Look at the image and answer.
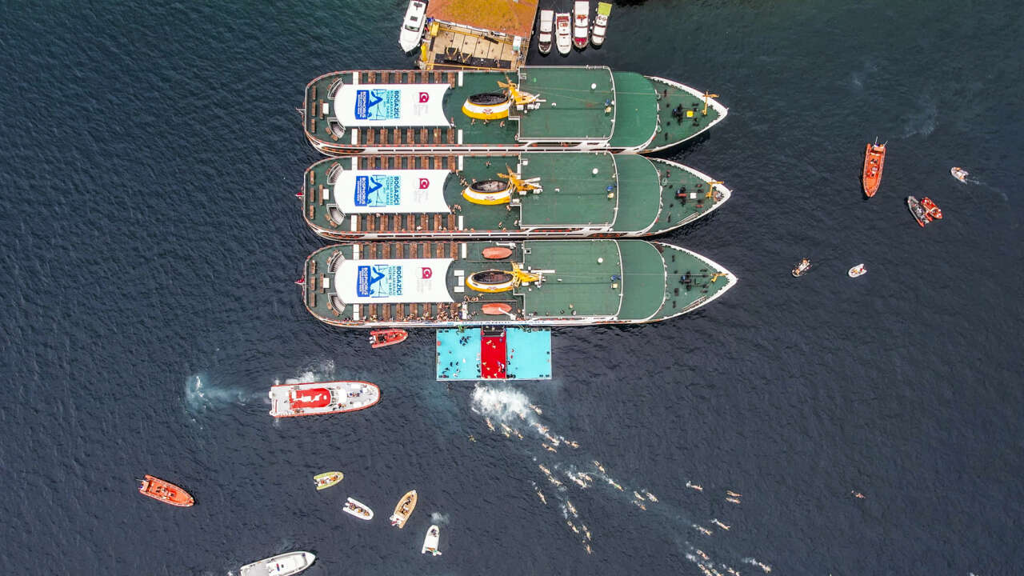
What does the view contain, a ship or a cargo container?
ship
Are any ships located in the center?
Yes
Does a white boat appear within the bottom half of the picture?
Yes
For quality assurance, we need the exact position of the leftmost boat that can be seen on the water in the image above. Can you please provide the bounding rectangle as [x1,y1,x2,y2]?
[137,477,193,506]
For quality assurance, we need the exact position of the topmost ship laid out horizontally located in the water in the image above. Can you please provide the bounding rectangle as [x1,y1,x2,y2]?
[292,65,728,158]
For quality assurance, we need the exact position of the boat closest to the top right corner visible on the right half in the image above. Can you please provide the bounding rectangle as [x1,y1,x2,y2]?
[950,168,971,184]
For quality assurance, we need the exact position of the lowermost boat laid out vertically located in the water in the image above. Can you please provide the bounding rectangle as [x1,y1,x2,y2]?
[424,526,438,557]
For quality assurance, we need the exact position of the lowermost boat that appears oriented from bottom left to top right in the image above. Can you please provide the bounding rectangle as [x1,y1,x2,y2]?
[388,492,417,528]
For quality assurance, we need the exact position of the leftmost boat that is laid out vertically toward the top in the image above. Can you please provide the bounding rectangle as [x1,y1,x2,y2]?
[401,0,429,52]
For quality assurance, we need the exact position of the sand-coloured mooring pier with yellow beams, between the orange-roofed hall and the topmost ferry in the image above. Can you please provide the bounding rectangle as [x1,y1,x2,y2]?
[422,8,539,72]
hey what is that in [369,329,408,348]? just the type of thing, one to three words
boat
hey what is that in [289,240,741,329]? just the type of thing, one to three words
ship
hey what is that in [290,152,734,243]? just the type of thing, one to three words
ship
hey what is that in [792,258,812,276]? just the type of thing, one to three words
boat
